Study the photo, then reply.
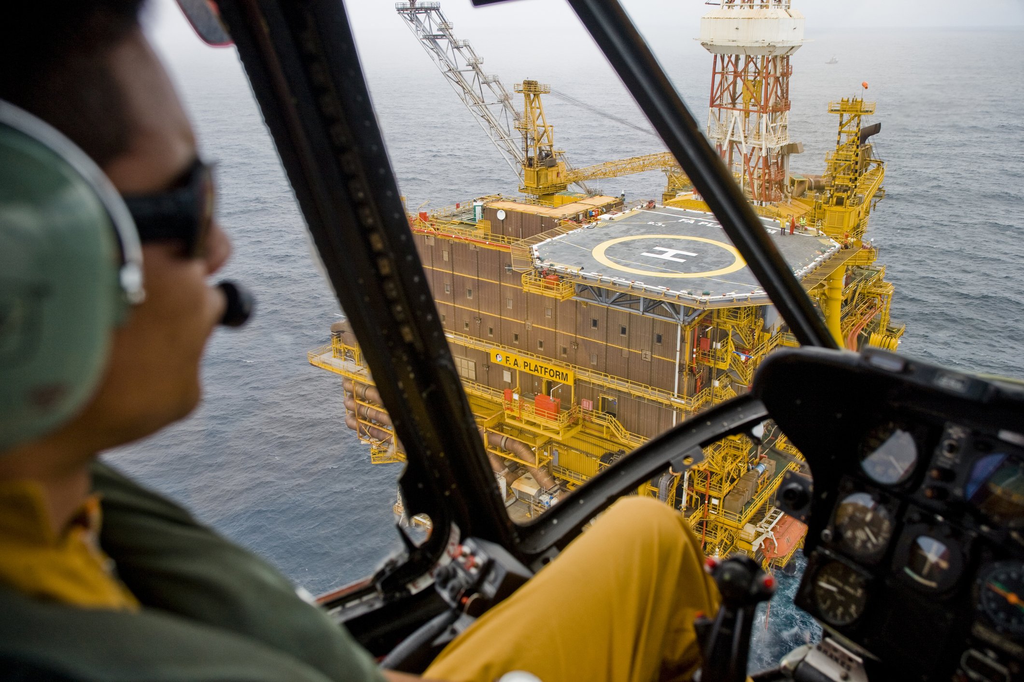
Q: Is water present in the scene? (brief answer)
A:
Yes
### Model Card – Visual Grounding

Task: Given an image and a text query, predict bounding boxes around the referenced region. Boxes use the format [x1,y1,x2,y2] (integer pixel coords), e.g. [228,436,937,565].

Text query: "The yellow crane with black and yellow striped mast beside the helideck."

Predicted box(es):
[812,97,887,334]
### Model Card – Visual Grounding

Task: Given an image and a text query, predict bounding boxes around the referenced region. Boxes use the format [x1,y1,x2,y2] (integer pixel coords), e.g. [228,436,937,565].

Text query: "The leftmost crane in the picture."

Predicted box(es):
[505,73,678,203]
